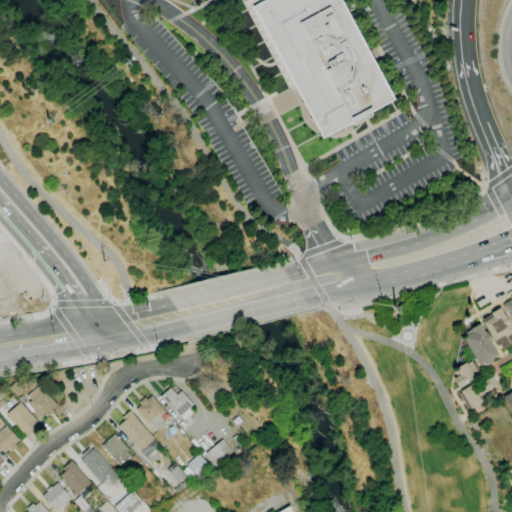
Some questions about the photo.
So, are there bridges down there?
Yes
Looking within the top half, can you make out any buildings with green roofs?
No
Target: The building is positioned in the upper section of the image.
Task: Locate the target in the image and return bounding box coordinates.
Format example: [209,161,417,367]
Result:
[252,0,396,137]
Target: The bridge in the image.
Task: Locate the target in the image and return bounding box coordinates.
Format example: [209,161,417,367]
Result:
[150,258,306,344]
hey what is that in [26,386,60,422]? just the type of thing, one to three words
house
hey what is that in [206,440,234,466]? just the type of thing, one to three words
barn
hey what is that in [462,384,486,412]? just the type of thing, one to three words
house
